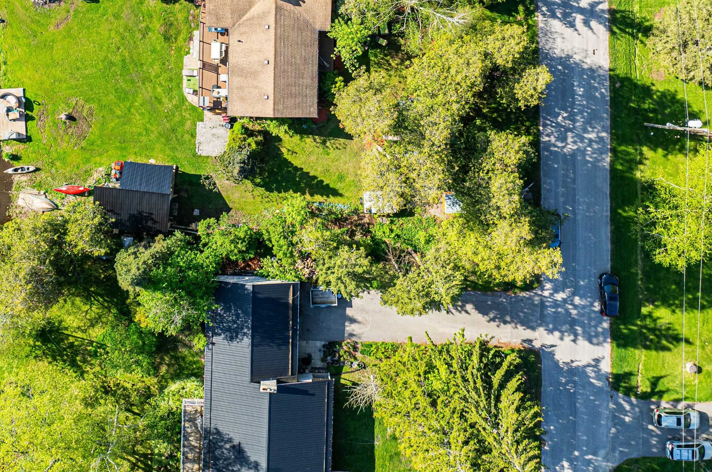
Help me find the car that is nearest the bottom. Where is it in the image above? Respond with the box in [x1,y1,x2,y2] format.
[664,438,711,461]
